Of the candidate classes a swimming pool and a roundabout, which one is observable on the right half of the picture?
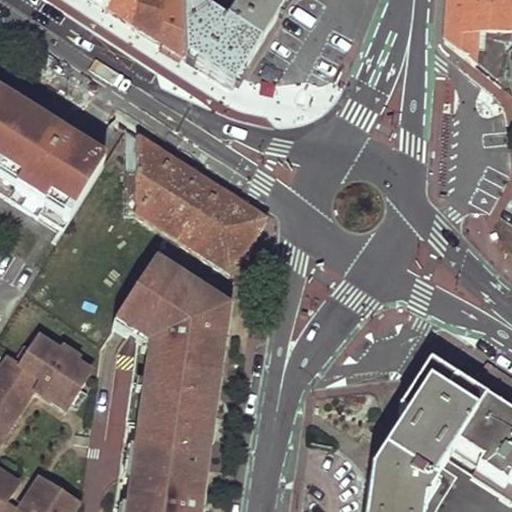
roundabout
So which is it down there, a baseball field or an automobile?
automobile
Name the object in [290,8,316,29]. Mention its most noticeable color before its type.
white vehicle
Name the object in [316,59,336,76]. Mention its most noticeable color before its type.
white car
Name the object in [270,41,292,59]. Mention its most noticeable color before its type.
white car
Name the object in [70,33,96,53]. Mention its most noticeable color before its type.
white vehicle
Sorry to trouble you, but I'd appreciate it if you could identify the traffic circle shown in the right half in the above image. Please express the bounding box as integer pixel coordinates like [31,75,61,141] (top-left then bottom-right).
[304,154,412,262]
